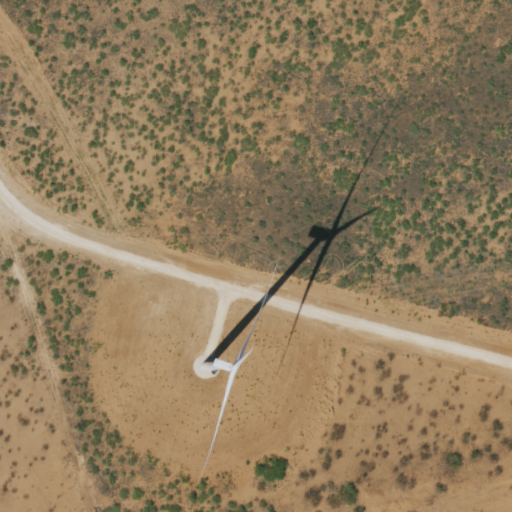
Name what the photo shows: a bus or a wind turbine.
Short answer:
wind turbine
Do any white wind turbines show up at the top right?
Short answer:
No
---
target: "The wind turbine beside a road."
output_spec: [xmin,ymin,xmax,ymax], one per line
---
[200,266,278,478]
